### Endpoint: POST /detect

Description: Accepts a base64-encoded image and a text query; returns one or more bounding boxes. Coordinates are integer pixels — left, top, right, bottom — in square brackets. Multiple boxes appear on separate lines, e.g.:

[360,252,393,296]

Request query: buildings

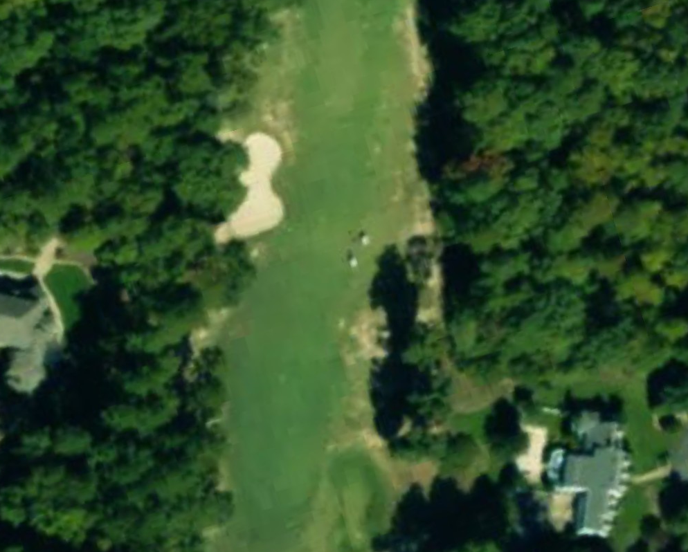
[0,292,76,393]
[548,410,629,536]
